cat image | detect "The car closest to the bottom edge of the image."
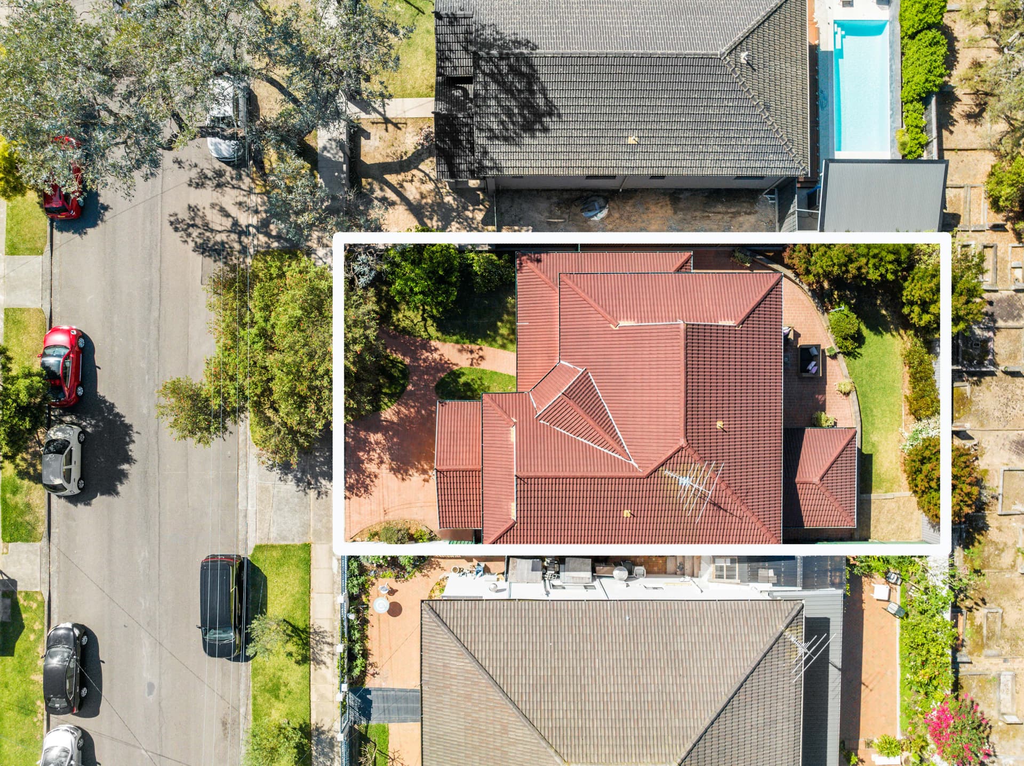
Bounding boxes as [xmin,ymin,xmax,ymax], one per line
[30,718,84,766]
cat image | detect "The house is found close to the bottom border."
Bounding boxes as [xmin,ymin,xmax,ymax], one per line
[417,564,807,766]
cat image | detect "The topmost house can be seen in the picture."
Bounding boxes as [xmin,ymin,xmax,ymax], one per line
[430,0,812,190]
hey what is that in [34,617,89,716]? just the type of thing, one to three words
car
